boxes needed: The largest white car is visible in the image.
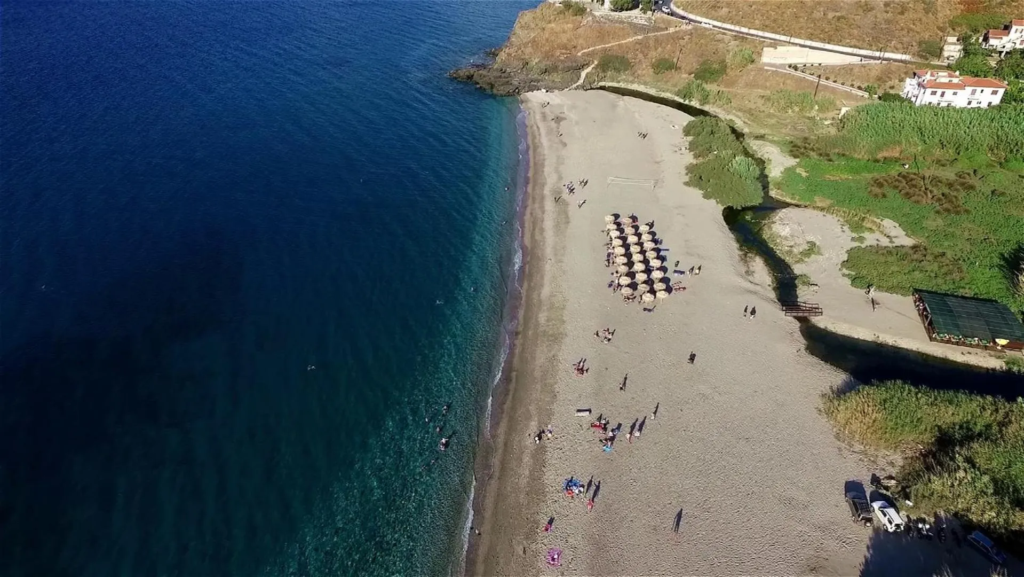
[868,497,908,534]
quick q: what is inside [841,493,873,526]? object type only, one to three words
car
